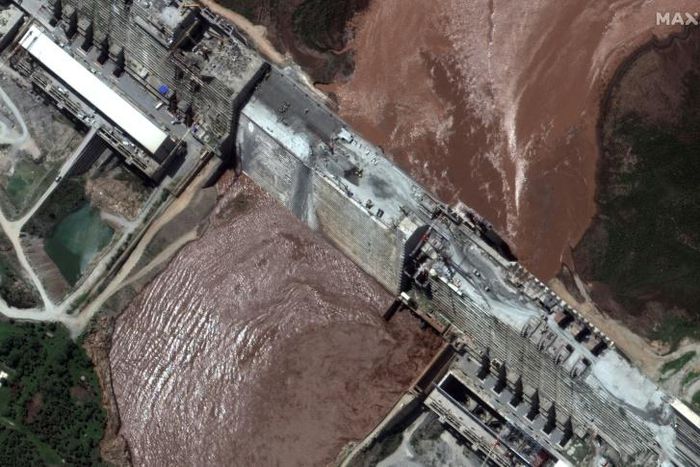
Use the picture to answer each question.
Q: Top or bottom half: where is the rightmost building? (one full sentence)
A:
It is in the bottom half that the rightmost building appears.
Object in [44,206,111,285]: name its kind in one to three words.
pond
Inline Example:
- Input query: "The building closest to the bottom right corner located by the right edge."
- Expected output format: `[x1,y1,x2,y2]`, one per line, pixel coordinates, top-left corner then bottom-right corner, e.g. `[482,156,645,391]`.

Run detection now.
[649,378,700,427]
